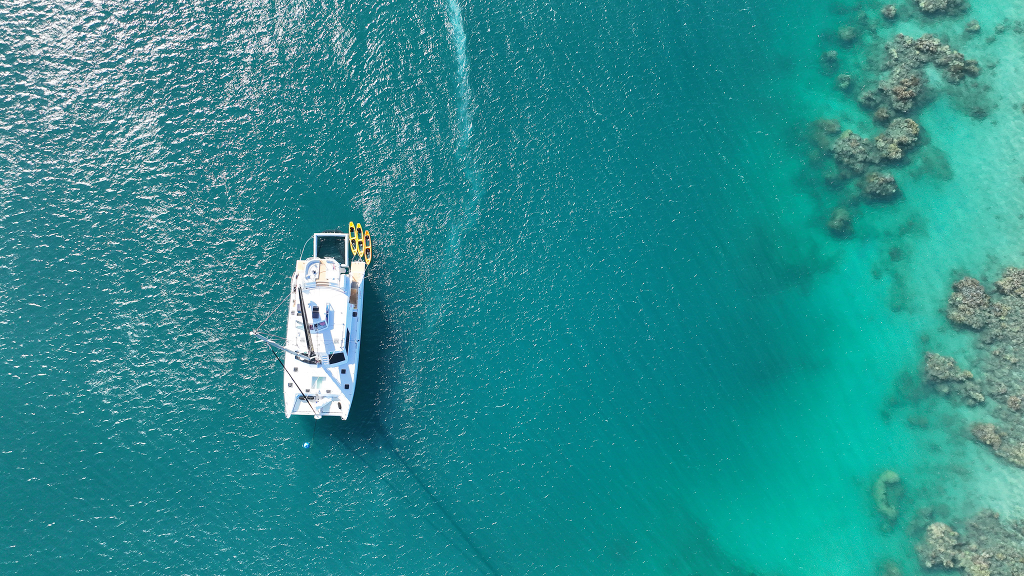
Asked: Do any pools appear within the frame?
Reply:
Yes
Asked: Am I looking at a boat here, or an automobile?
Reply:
boat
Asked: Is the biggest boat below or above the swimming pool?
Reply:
below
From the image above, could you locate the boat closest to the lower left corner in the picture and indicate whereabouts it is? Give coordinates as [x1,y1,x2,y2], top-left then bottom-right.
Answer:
[248,258,368,421]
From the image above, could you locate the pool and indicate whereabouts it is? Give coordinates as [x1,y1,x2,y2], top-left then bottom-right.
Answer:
[312,233,349,268]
